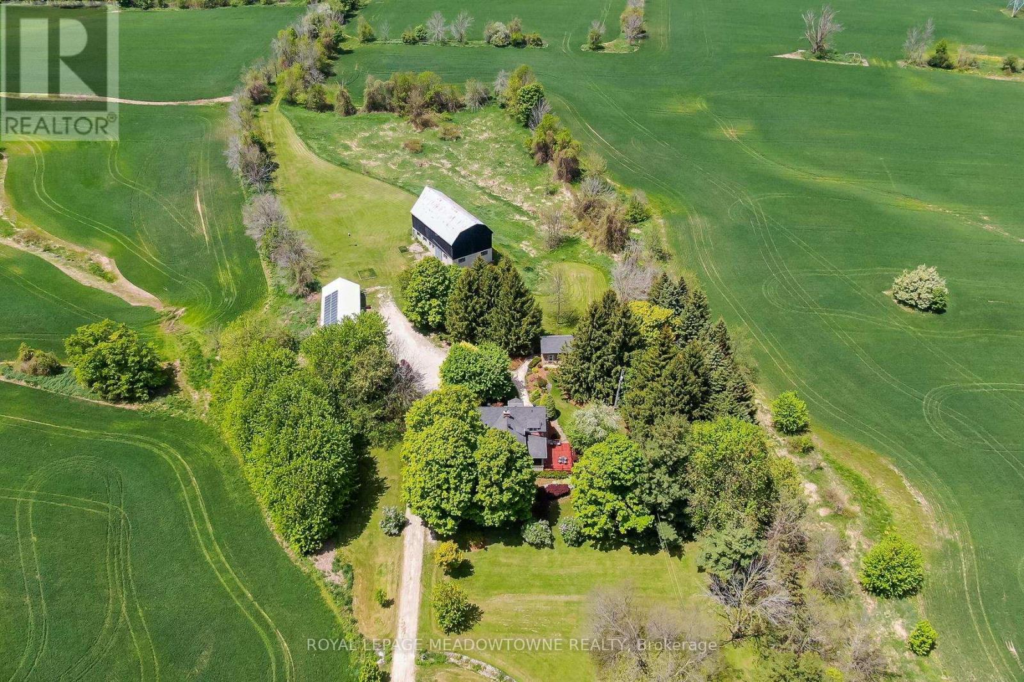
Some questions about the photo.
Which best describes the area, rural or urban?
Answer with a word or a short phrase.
rural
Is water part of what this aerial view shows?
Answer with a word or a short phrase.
No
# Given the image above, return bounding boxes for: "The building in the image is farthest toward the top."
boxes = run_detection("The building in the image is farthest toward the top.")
[408,190,492,267]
